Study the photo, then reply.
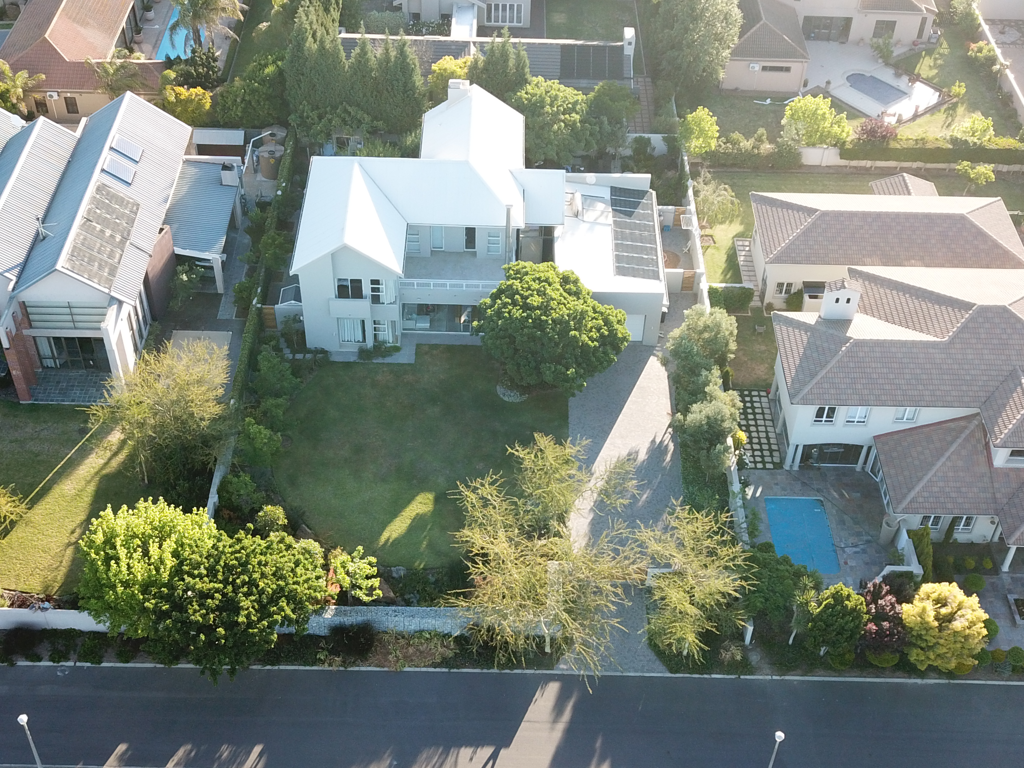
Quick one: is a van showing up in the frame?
No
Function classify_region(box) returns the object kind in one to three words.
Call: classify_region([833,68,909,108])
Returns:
swimming pool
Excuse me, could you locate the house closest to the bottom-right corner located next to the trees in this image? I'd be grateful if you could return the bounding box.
[768,264,1024,575]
